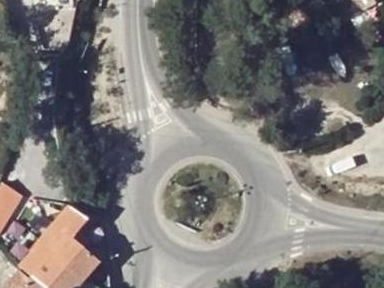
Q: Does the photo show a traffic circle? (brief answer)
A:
Yes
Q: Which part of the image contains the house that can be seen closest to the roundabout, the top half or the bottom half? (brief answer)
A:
bottom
